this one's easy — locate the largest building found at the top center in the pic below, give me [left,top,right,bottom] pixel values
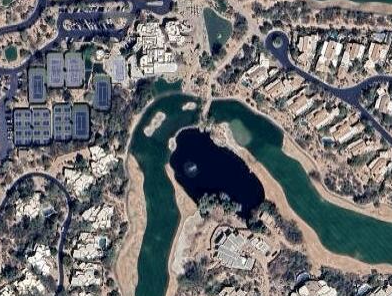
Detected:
[131,22,191,73]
